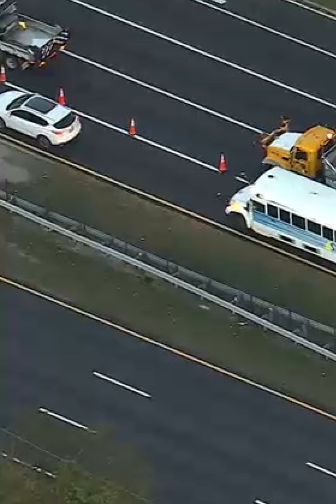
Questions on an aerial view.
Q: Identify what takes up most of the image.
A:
paved ground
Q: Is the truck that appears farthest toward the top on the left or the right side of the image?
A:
left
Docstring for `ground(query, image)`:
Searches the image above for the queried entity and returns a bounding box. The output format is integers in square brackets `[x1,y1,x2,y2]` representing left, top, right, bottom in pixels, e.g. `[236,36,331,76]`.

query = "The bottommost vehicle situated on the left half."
[0,91,78,147]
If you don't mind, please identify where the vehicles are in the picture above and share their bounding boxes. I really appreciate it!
[0,2,67,70]
[258,116,336,189]
[222,166,336,264]
[0,91,78,147]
